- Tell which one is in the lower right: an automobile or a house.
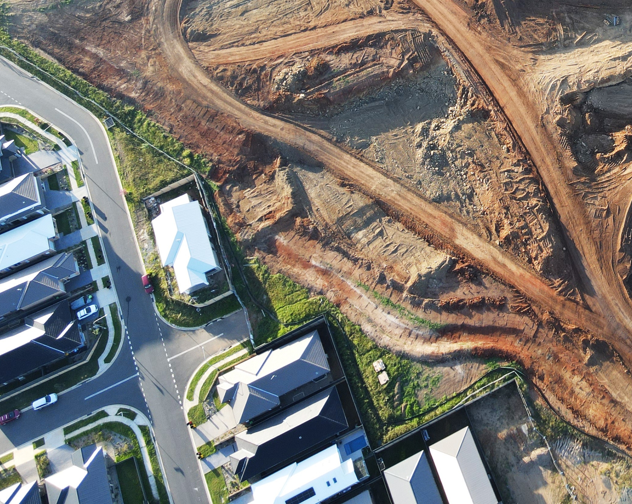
house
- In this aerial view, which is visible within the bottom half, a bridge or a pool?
pool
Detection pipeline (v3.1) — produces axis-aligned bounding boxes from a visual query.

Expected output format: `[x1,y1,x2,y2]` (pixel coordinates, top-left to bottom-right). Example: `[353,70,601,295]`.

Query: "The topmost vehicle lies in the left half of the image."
[138,271,154,295]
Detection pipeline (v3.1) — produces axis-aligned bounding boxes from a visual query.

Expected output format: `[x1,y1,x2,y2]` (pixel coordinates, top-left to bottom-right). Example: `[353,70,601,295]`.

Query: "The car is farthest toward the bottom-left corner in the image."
[0,407,20,425]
